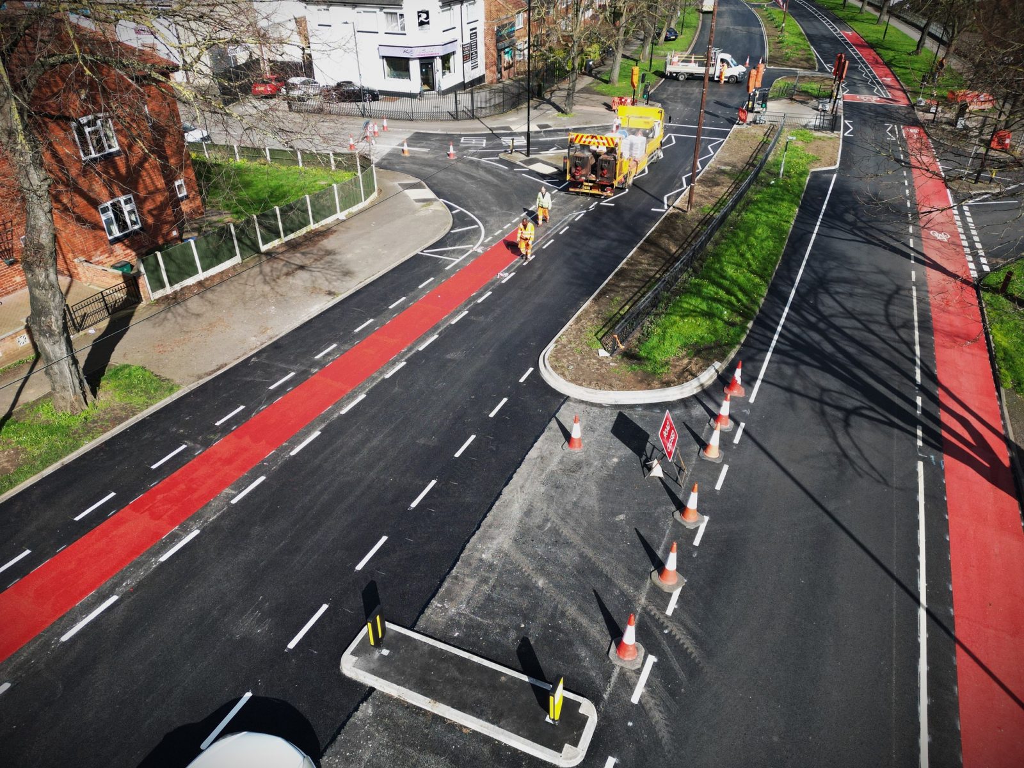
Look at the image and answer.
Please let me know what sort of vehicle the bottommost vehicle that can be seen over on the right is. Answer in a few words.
truck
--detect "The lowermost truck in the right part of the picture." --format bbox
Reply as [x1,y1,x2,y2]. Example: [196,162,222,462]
[568,104,673,203]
